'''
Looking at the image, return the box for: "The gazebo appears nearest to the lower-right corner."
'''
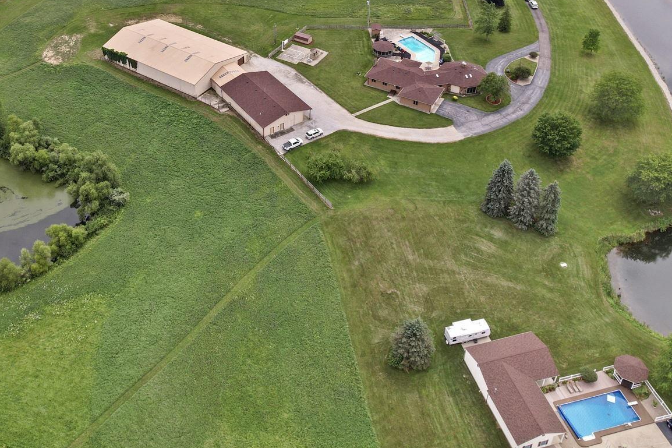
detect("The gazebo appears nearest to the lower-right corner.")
[613,356,650,392]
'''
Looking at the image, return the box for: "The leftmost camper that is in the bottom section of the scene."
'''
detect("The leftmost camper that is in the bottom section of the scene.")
[446,316,491,343]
